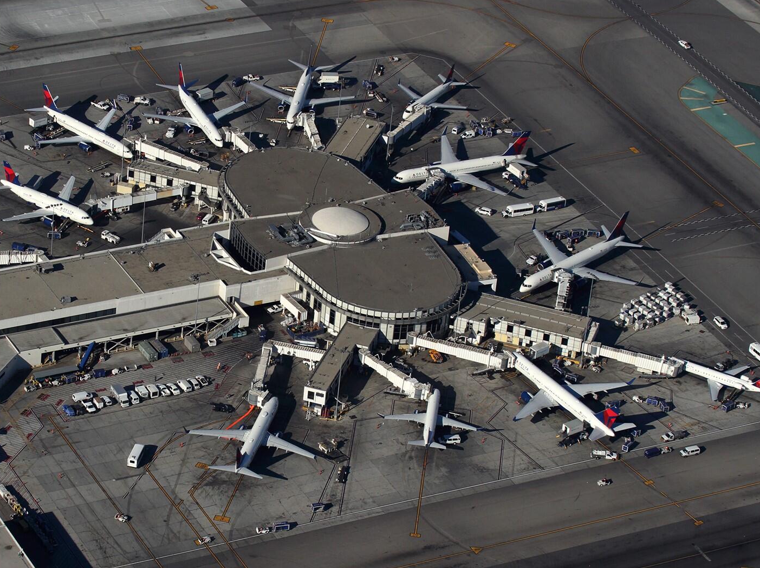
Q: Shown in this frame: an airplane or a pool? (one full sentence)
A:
It is an airplane that can be seen here.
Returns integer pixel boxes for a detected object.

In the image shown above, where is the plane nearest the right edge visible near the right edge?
[659,355,760,398]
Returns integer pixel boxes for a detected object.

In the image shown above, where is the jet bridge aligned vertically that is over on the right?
[553,271,572,313]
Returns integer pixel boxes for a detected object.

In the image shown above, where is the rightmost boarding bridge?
[589,344,683,379]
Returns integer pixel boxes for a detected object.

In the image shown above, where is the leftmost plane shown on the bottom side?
[189,398,321,475]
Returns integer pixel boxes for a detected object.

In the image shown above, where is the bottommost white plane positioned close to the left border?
[0,162,95,230]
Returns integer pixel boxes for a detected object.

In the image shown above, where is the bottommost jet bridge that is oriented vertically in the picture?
[253,344,273,407]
